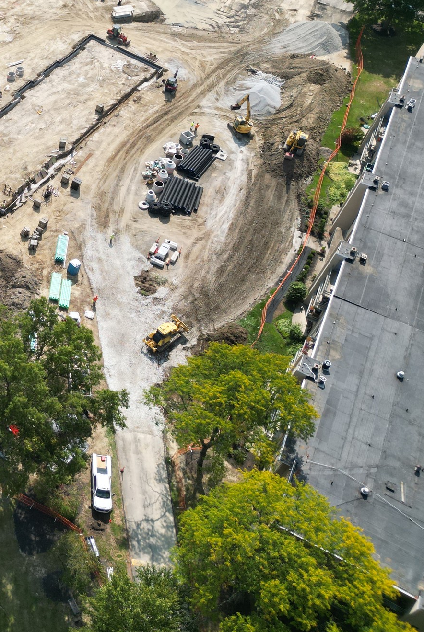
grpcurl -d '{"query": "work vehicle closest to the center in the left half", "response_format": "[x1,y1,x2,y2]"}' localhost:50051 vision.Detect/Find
[143,314,189,350]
